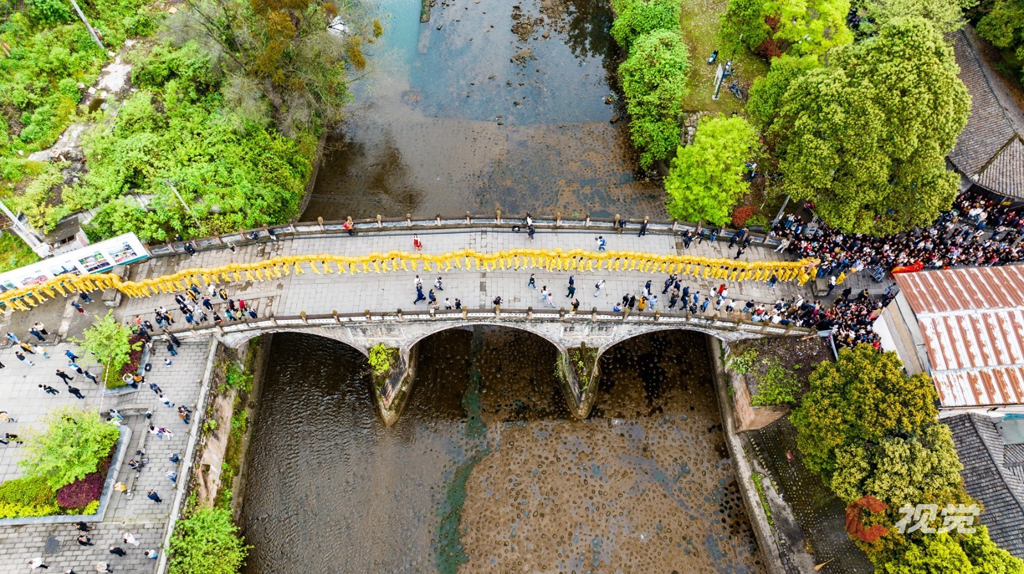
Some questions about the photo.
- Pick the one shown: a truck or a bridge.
bridge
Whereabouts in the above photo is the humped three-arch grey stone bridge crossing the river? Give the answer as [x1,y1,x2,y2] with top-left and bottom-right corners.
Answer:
[113,214,887,425]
